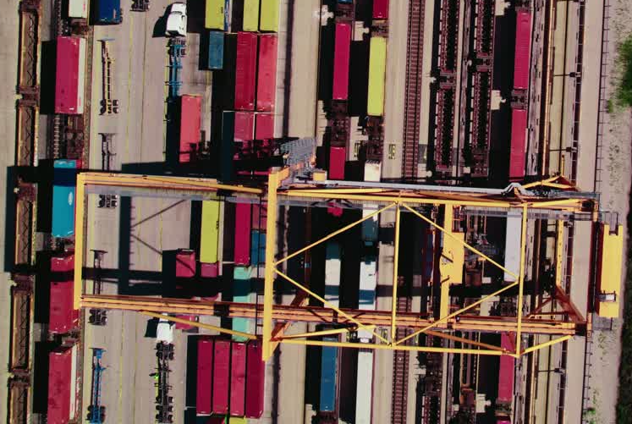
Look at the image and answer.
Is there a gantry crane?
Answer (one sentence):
Yes, the frame does contain a gantry crane.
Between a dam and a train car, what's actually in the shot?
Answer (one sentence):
The image shows a train car.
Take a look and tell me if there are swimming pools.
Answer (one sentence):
No, this view has no swimming pool in it.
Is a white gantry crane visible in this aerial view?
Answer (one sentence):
No, the frame has no white gantry crane in it.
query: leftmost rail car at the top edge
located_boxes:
[19,0,43,95]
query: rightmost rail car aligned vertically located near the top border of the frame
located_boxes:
[509,0,532,97]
